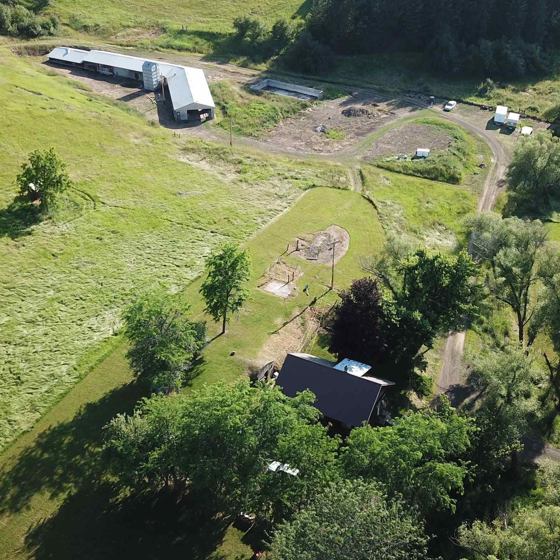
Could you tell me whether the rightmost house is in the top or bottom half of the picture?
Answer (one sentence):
You can find the rightmost house in the bottom half.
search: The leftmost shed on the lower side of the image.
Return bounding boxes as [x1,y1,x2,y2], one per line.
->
[249,353,279,388]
